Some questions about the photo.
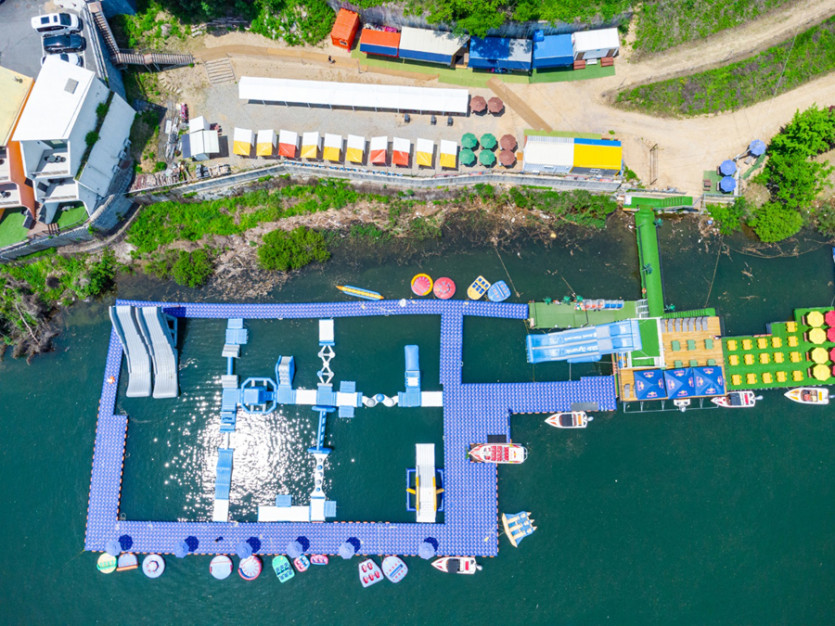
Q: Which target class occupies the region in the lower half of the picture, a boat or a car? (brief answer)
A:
boat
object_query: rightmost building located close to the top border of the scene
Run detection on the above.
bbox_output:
[572,28,620,62]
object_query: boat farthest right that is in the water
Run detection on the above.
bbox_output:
[786,389,833,404]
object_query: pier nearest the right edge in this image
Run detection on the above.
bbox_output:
[721,306,835,392]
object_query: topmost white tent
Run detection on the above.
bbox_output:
[237,77,469,118]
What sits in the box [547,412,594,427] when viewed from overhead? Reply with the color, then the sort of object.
white boat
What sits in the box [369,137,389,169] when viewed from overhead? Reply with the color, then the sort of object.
white tent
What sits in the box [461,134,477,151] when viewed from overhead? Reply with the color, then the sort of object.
green umbrella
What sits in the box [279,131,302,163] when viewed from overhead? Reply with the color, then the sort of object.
white tent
